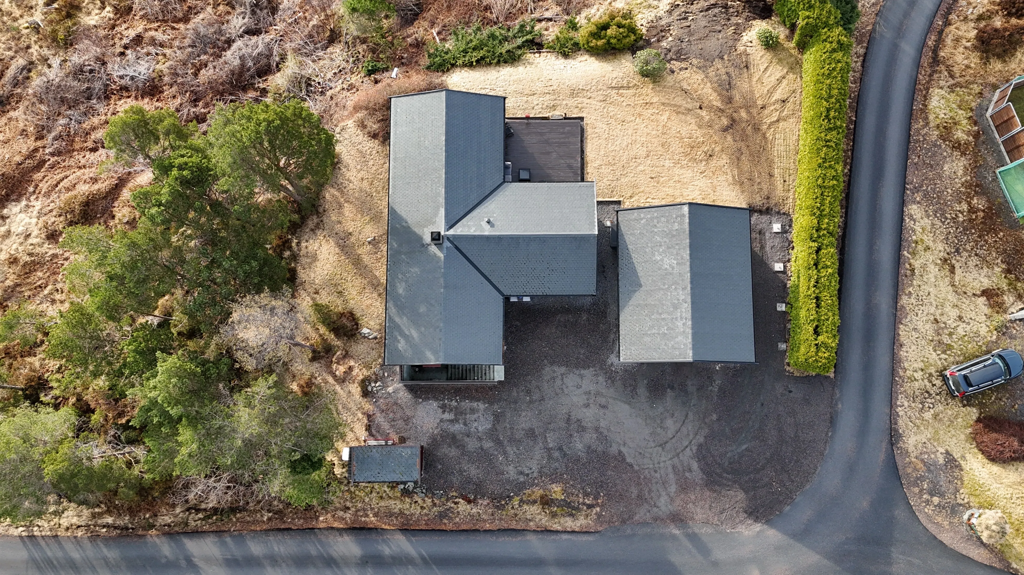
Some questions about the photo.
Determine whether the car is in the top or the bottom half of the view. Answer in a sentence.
Seen from above, the car lies in the bottom half of the view.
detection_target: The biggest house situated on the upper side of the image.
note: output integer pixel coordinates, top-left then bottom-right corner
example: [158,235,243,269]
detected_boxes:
[381,86,600,366]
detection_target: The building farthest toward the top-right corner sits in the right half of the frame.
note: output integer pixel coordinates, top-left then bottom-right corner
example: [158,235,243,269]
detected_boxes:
[612,201,759,364]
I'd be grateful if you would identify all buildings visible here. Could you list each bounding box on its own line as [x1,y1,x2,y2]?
[381,86,600,366]
[612,201,759,364]
[349,444,425,488]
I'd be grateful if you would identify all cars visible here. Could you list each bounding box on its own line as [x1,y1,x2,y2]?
[942,351,1024,400]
